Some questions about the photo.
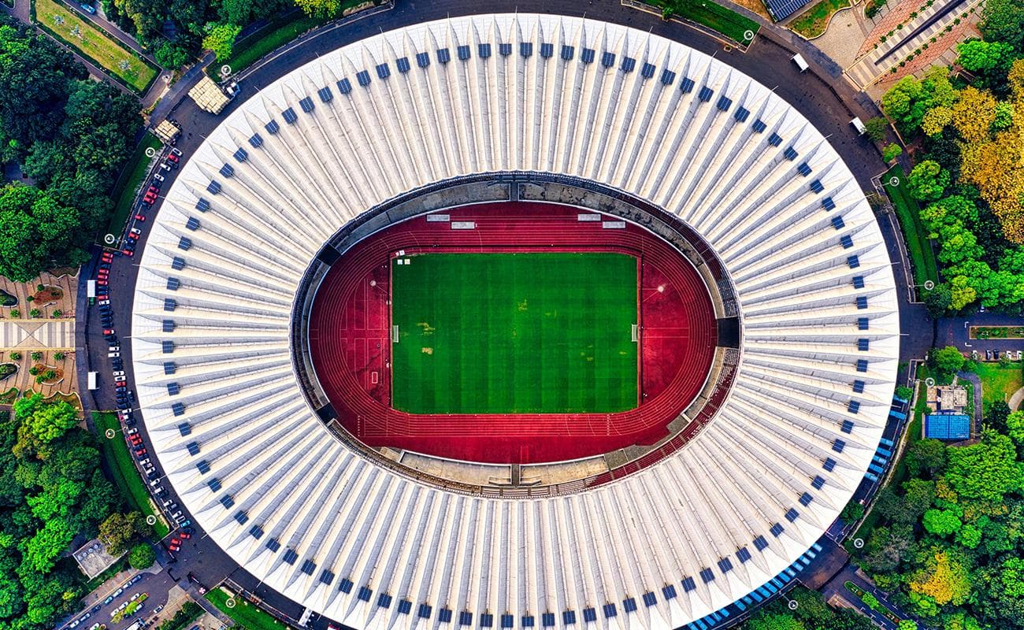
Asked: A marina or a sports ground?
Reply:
sports ground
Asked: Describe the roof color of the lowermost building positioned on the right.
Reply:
blue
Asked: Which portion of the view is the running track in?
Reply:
center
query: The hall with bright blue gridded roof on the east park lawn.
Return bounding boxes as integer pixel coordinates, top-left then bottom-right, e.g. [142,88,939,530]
[920,414,970,439]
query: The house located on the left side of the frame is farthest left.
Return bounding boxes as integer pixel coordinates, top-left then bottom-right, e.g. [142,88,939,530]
[76,535,131,579]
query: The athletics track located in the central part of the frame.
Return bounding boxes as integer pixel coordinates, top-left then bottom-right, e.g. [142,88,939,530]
[310,203,717,462]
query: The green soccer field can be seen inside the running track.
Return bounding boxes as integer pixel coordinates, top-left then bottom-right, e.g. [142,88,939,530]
[390,252,640,414]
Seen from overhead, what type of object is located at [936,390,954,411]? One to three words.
building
